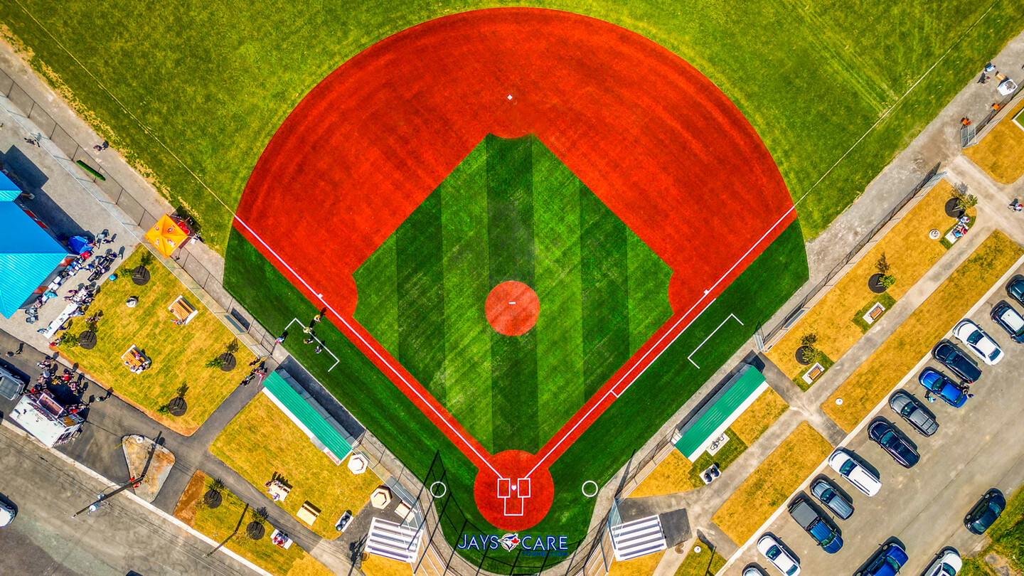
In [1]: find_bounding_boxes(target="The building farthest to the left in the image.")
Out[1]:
[0,161,80,319]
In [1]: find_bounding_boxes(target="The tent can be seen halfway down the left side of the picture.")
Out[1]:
[145,214,202,259]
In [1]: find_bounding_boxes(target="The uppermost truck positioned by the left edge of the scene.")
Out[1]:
[0,365,28,401]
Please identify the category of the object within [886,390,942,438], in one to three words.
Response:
car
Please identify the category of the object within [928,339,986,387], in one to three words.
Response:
car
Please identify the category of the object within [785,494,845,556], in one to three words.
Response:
truck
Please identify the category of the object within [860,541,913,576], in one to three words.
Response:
truck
